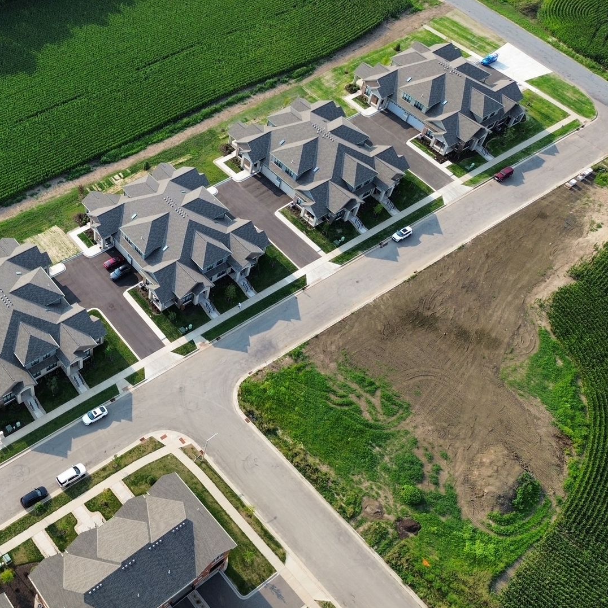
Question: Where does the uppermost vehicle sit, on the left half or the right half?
right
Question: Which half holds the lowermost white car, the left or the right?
left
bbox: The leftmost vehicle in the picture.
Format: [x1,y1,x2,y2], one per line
[17,484,50,511]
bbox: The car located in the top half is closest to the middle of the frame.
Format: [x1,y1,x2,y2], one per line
[391,223,414,243]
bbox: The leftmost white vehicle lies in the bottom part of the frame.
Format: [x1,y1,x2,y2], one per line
[53,463,88,489]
